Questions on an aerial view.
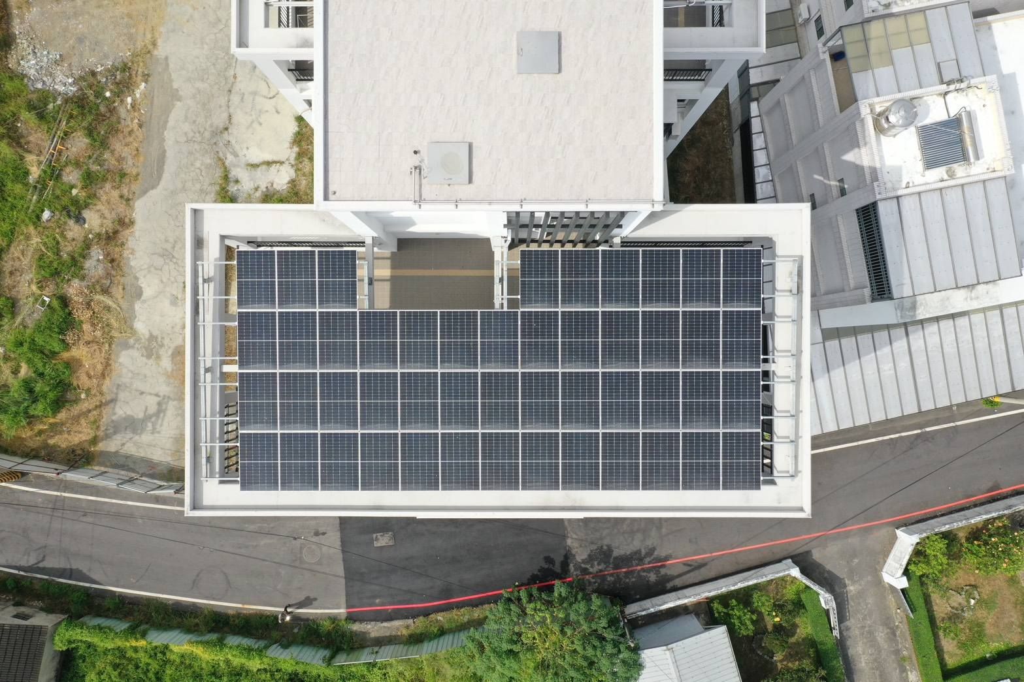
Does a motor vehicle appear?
No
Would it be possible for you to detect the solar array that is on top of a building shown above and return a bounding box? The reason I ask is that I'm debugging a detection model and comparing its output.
[196,247,798,490]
